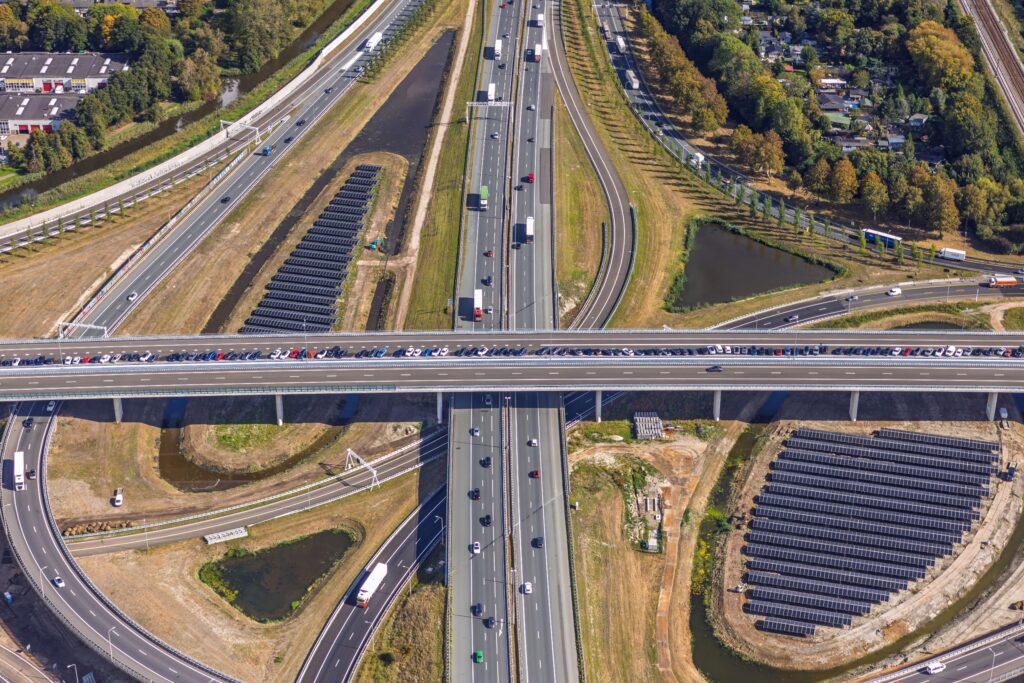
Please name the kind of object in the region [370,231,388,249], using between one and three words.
work vehicle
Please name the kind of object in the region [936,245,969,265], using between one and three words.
vehicle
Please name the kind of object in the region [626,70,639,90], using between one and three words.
vehicle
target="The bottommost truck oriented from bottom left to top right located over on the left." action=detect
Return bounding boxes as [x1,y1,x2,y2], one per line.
[355,563,388,608]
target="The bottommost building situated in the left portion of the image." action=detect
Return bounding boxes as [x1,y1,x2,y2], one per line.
[0,93,85,135]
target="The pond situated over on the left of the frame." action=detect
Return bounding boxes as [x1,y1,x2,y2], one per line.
[211,532,352,621]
